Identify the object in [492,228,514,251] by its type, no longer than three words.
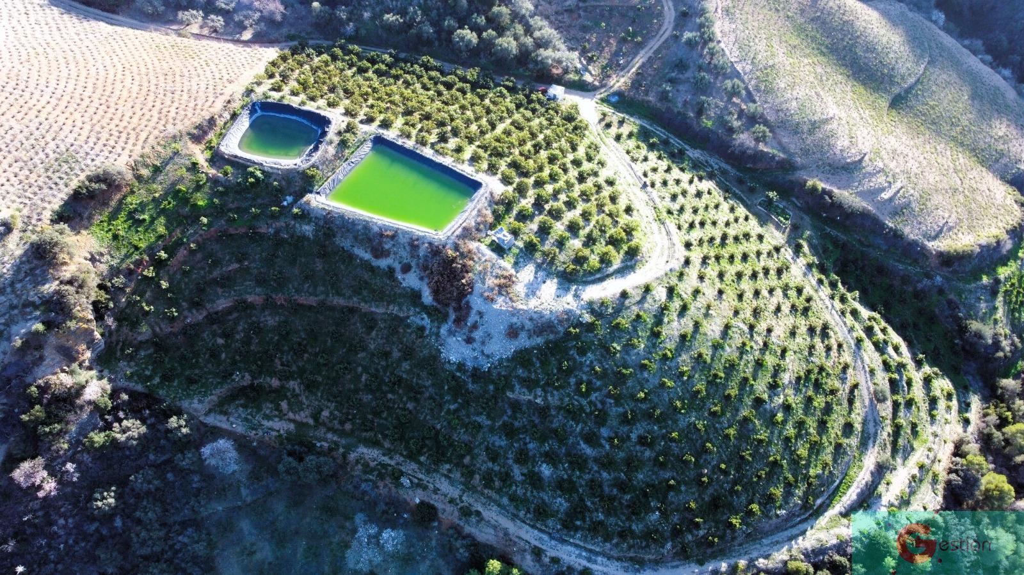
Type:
building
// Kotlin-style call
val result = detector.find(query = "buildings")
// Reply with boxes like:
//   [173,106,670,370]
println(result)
[547,84,566,102]
[492,228,514,251]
